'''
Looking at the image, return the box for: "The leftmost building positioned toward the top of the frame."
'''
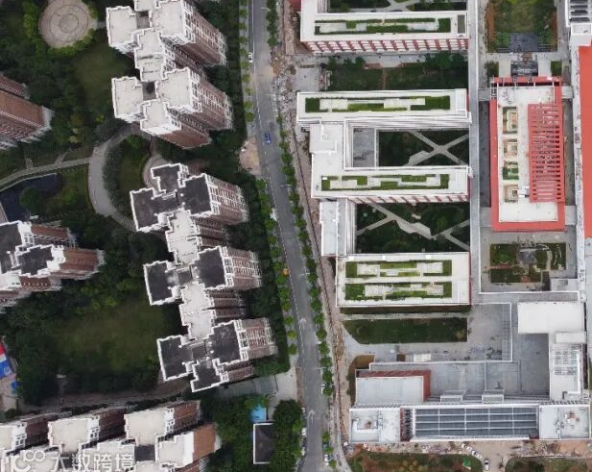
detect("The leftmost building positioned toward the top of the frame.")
[0,71,50,155]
